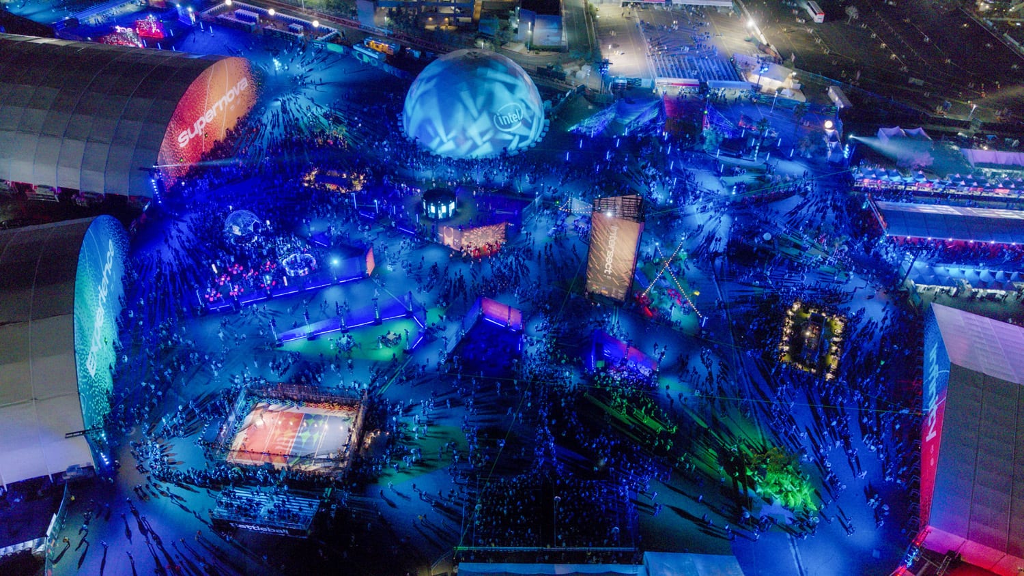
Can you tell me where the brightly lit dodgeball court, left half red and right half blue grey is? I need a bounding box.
[208,378,375,483]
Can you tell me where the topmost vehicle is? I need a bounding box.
[800,0,822,21]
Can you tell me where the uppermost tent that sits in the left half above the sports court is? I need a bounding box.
[0,47,260,211]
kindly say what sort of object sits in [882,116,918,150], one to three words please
tent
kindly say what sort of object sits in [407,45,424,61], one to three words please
vehicle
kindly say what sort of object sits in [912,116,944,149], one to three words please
tent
